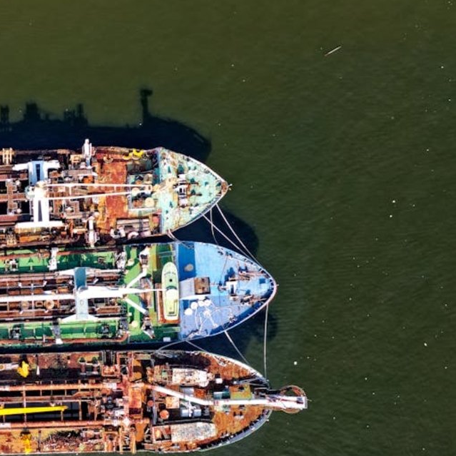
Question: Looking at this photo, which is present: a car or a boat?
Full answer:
I can see a boat in this picture.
